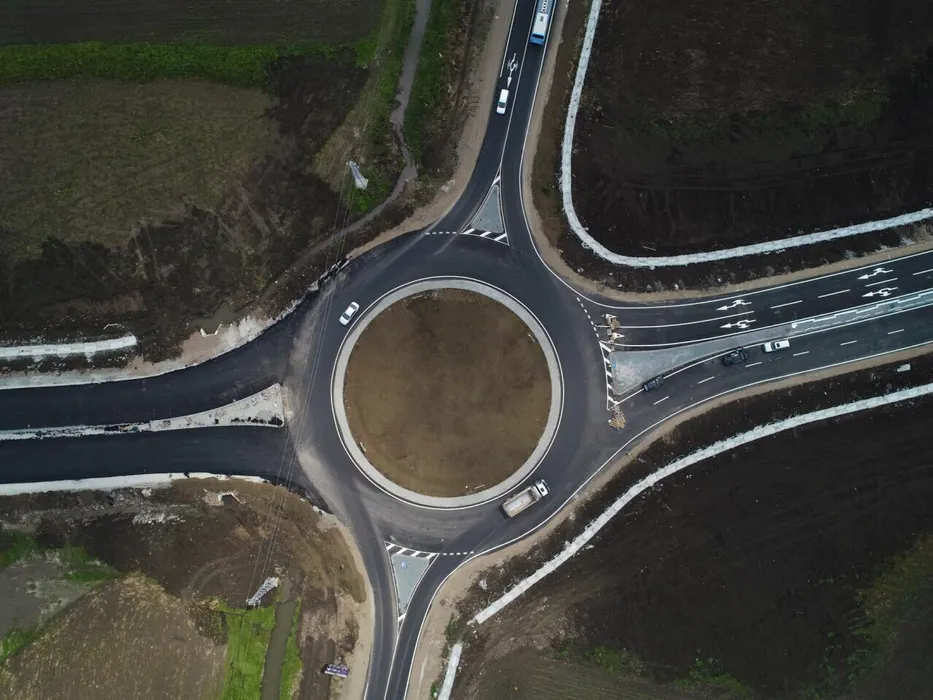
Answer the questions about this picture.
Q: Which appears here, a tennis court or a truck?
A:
truck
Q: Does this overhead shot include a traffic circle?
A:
Yes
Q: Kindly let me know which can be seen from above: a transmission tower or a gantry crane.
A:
transmission tower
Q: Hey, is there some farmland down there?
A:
Yes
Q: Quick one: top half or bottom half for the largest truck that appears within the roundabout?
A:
bottom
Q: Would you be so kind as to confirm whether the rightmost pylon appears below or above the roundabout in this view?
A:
above it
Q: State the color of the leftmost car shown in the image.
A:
white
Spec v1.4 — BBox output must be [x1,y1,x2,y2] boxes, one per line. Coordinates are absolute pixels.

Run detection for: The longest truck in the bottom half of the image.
[501,479,551,517]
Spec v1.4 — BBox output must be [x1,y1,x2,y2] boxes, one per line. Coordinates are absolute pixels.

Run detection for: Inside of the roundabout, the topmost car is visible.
[339,301,360,326]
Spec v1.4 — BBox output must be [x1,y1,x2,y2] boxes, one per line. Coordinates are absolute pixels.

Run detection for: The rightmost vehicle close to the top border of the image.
[531,0,555,46]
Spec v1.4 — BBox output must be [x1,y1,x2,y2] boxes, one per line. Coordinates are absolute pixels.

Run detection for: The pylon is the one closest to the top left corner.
[345,162,370,191]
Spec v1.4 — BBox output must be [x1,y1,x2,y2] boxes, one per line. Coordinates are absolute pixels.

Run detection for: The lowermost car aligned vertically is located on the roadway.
[495,89,508,115]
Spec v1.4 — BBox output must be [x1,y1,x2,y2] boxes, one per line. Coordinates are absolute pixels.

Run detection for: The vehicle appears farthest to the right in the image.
[761,339,788,354]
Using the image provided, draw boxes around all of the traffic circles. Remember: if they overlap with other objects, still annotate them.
[285,232,610,558]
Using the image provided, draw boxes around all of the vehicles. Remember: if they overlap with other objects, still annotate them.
[501,479,551,517]
[339,301,360,326]
[641,374,665,392]
[531,0,555,46]
[761,339,788,354]
[722,348,749,365]
[495,89,508,115]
